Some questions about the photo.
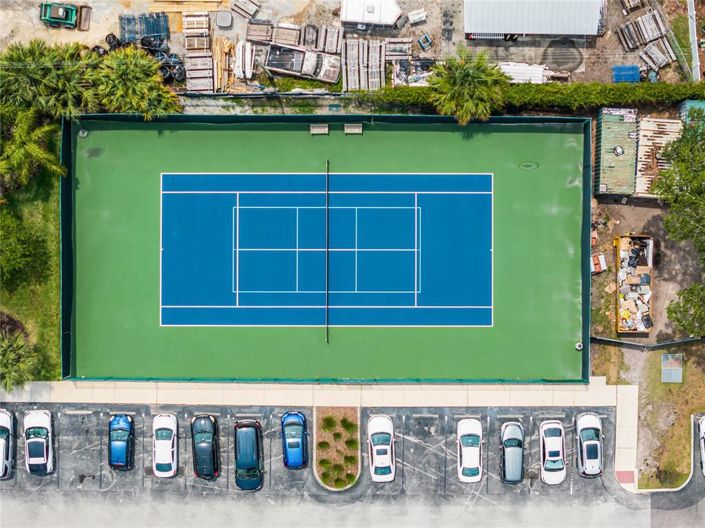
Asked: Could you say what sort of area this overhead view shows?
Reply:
sports ground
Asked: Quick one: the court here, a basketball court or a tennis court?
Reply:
tennis court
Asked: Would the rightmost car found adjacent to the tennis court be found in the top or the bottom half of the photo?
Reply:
bottom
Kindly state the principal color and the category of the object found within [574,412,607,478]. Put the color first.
white car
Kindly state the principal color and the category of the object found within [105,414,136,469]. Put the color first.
blue car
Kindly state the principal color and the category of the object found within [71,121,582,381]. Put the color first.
green tennis court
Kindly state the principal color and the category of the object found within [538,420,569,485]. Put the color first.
white car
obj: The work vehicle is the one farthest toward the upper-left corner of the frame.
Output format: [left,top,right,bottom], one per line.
[37,0,97,34]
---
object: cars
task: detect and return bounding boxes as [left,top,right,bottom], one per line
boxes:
[455,419,486,483]
[232,420,266,491]
[366,414,397,482]
[149,414,180,477]
[105,414,136,469]
[498,421,529,483]
[20,410,56,475]
[538,420,569,485]
[278,410,310,469]
[574,412,607,478]
[188,414,221,479]
[0,409,18,479]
